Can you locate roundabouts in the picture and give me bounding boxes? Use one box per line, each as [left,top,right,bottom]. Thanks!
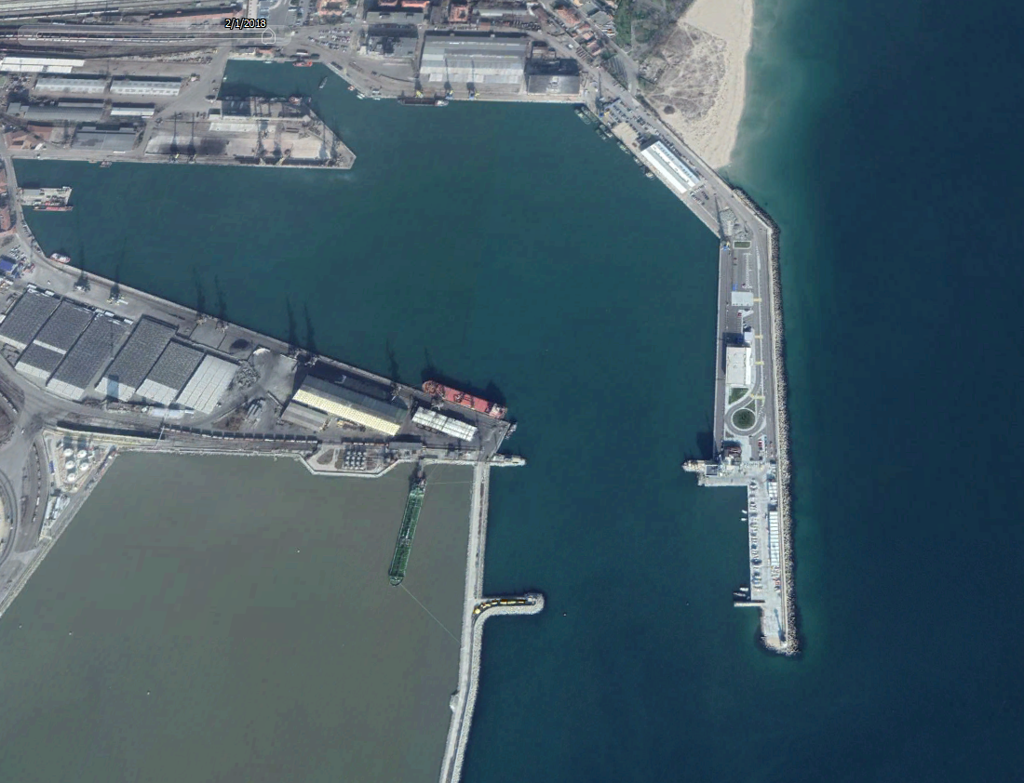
[723,367,765,440]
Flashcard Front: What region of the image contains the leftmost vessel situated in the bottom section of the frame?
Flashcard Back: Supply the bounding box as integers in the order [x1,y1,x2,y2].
[390,476,426,586]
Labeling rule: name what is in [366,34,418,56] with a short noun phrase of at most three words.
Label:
building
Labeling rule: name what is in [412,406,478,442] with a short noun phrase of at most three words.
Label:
building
